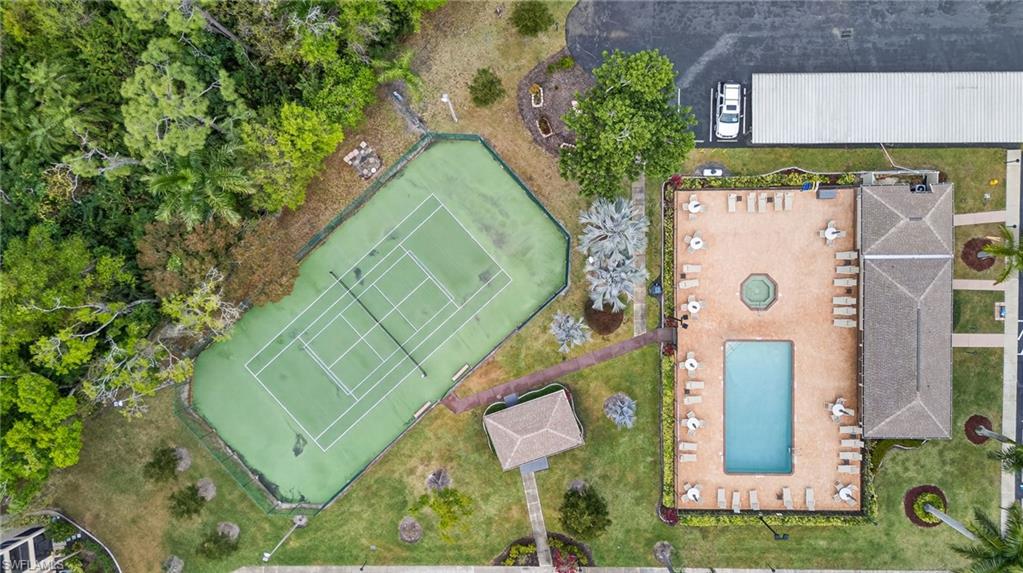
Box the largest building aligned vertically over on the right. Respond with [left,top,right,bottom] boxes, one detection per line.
[856,184,954,439]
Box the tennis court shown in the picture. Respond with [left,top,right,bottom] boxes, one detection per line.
[193,139,568,505]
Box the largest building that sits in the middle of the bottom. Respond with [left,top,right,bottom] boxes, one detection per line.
[484,388,584,470]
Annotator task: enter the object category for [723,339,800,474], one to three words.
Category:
swimming pool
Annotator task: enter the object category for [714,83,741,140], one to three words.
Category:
car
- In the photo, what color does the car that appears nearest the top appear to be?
white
